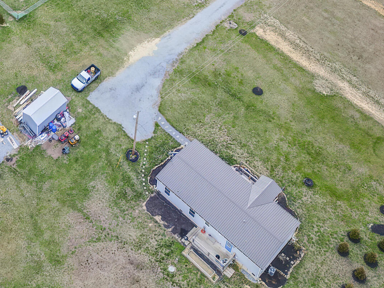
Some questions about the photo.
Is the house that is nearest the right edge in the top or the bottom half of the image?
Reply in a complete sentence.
The house that is nearest the right edge is in the bottom half of the image.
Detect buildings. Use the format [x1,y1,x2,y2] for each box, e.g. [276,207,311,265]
[22,88,68,134]
[152,139,301,281]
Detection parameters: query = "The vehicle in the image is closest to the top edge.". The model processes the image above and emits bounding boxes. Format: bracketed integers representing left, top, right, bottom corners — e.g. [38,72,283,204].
[69,62,102,93]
